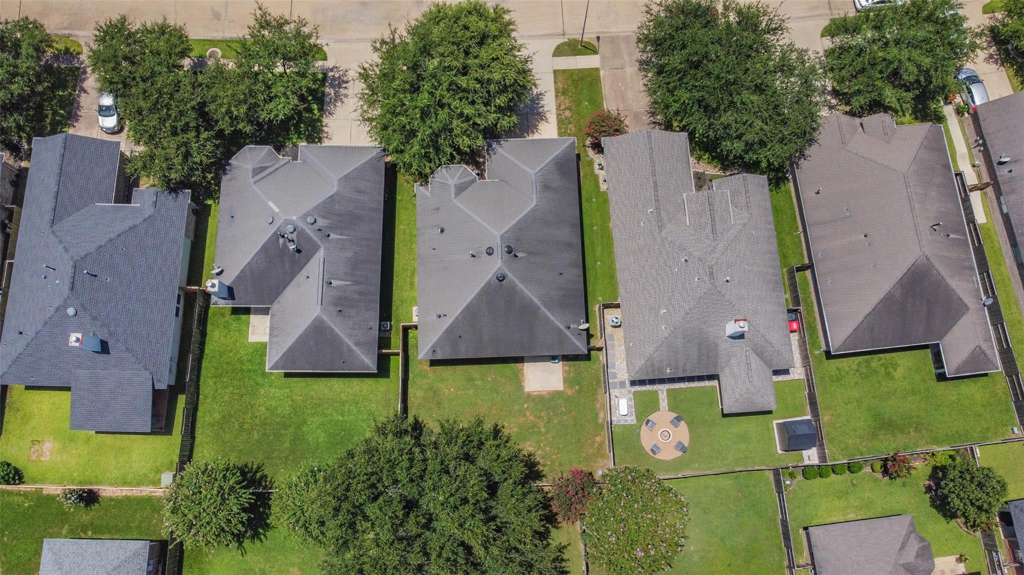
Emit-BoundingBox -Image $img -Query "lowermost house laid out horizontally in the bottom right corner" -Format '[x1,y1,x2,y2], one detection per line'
[797,513,935,575]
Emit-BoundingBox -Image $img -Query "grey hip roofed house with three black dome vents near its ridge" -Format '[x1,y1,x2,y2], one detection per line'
[415,137,588,360]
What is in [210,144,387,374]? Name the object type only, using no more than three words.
house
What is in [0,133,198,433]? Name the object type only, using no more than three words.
house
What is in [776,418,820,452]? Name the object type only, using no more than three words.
shed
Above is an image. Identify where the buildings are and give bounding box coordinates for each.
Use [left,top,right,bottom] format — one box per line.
[958,89,1024,276]
[415,137,588,360]
[0,152,24,299]
[0,133,198,433]
[210,144,387,374]
[39,537,163,575]
[784,113,1001,378]
[797,513,935,575]
[602,130,795,415]
[776,418,820,452]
